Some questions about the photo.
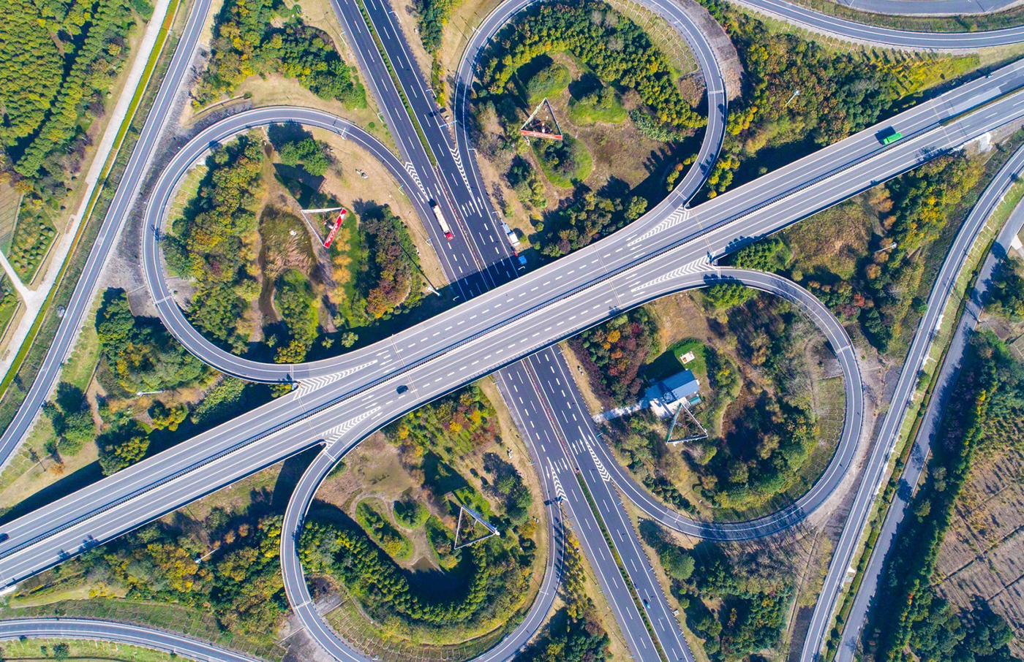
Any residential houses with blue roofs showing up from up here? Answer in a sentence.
Yes, there's a residential house with a blue roof down there.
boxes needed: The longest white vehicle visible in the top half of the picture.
[432,205,453,239]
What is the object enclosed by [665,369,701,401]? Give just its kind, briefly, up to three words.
house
